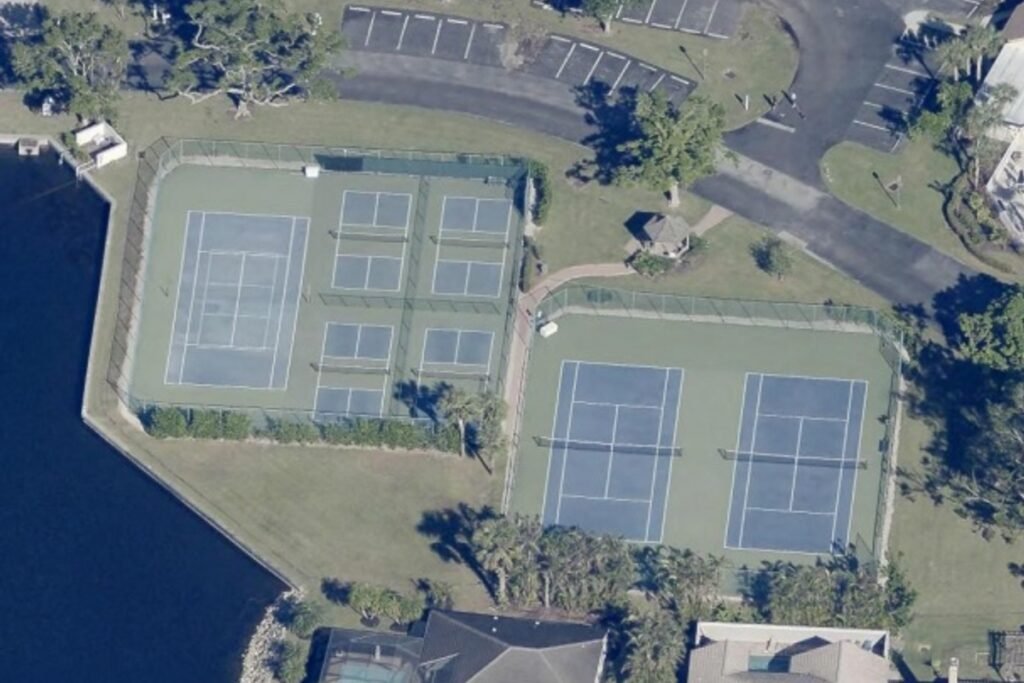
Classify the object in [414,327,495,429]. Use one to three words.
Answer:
sports court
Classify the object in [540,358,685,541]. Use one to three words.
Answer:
tennis court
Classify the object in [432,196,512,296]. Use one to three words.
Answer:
sports court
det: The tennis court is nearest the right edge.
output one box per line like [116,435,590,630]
[724,372,869,555]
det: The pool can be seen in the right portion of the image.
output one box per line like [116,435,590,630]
[750,656,789,674]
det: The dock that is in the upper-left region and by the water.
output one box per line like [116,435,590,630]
[19,137,40,153]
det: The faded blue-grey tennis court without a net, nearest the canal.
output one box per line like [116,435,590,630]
[163,210,310,390]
